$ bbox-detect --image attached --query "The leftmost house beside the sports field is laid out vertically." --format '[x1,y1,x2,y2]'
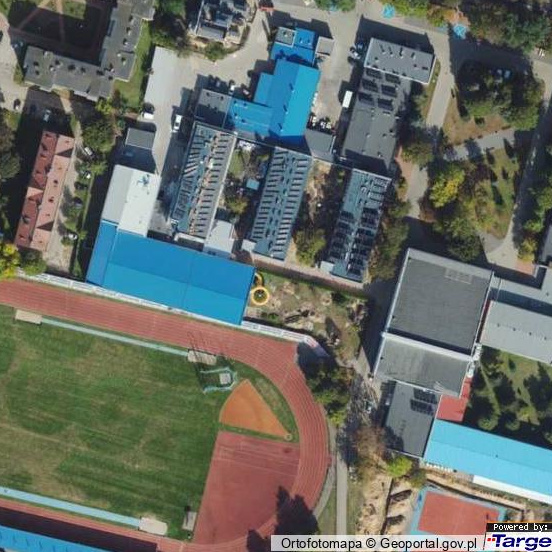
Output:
[14,130,76,253]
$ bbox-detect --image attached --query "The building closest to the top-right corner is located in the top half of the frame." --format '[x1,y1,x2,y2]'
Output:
[364,38,436,87]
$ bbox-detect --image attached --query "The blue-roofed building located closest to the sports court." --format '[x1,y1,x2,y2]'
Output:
[423,419,552,505]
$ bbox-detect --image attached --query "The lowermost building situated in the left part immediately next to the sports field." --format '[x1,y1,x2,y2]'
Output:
[88,220,256,326]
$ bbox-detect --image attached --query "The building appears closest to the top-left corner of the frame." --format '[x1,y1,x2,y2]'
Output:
[24,0,157,103]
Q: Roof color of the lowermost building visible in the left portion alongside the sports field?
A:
blue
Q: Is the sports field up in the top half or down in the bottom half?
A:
bottom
